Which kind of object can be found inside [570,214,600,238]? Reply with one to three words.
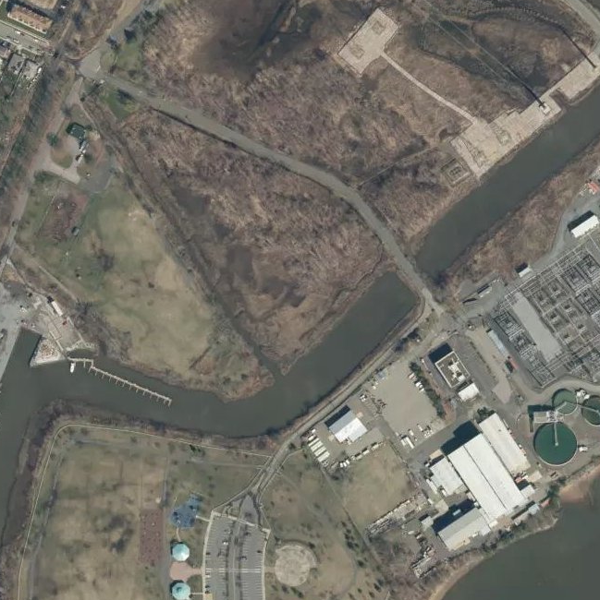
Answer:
shed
